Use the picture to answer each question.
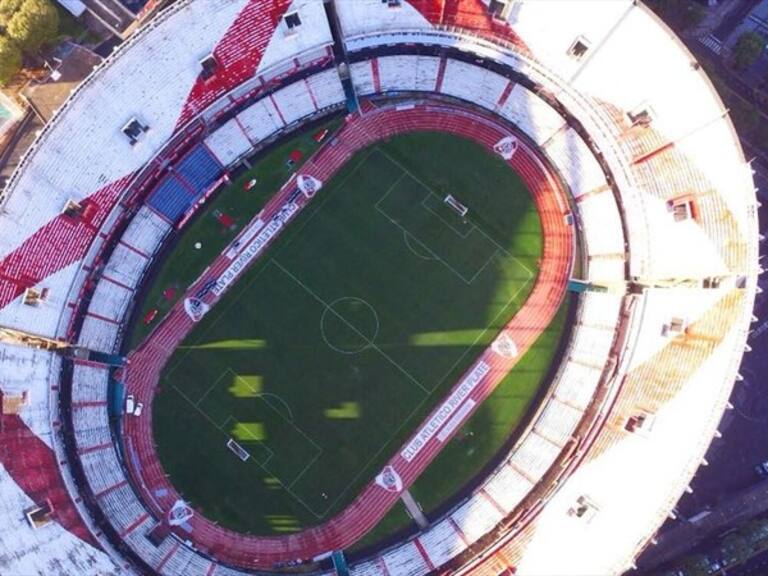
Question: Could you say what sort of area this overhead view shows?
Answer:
sports ground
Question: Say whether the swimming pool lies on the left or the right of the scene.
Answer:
left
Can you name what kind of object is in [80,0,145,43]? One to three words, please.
house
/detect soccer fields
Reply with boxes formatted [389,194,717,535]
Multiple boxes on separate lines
[155,134,539,532]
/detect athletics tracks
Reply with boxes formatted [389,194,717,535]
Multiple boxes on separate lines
[121,104,573,569]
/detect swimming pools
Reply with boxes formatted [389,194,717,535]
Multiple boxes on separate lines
[0,91,23,135]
